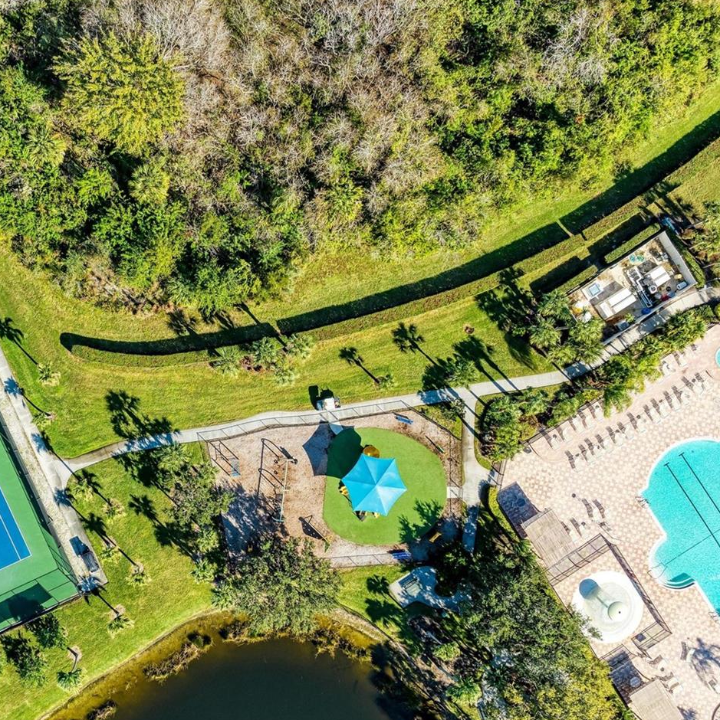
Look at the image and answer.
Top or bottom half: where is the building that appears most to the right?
bottom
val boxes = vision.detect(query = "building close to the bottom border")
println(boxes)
[623,674,683,720]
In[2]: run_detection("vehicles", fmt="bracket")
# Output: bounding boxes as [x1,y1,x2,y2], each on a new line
[80,550,97,574]
[315,399,339,411]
